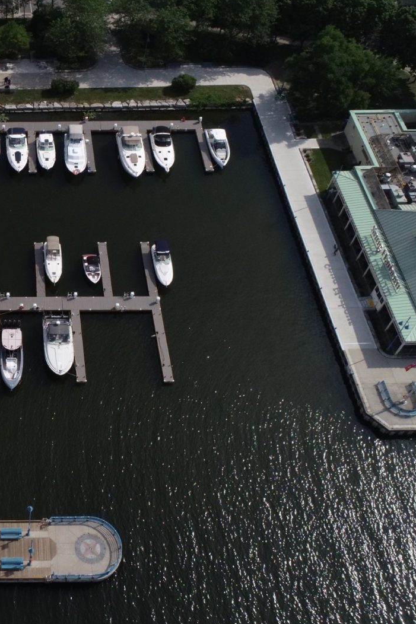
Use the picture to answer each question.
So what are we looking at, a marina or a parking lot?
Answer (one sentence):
This looks like a marina.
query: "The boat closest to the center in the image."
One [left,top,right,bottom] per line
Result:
[150,240,174,287]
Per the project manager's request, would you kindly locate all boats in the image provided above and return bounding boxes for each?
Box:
[43,236,63,284]
[81,254,100,284]
[119,125,148,176]
[42,311,73,372]
[36,130,57,170]
[1,323,22,386]
[205,130,230,168]
[150,240,174,287]
[63,123,87,176]
[150,123,176,171]
[7,126,29,172]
